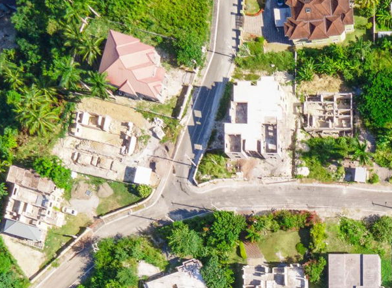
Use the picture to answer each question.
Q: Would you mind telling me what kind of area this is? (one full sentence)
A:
What you see here is a residential area.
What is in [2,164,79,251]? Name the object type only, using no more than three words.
house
